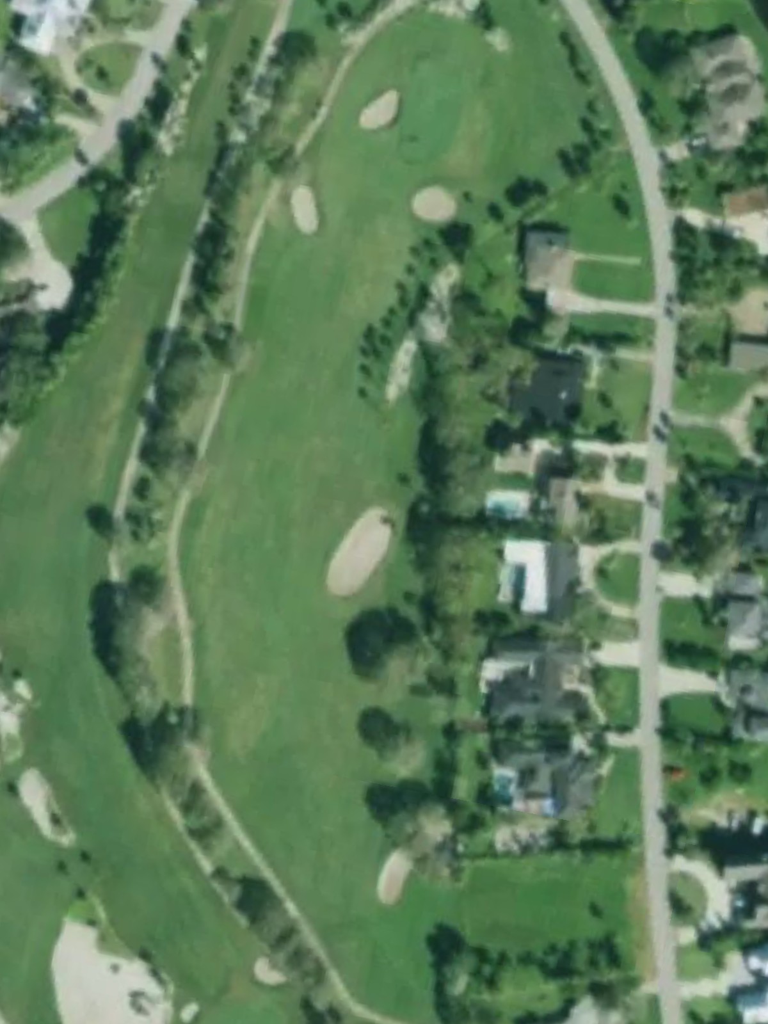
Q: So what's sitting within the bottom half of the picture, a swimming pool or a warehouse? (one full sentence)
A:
Looking within the bottom half of the picture, you will find a swimming pool.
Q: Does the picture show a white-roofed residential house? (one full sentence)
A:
Yes, there's a white-roofed residential house here.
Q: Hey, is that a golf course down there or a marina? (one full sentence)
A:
What you see here is a golf course.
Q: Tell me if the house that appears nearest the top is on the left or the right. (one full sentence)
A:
The house that appears nearest the top sits on the left side.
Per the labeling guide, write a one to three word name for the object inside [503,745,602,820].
house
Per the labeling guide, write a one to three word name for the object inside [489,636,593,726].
house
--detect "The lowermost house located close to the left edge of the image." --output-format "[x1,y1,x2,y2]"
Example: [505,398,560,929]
[0,59,34,119]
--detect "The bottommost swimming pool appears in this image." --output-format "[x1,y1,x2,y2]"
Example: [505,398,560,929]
[494,769,516,808]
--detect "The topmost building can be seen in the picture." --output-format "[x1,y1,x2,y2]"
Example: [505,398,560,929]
[11,0,92,53]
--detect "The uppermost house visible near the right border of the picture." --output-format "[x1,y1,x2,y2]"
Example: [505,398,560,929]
[700,34,767,150]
